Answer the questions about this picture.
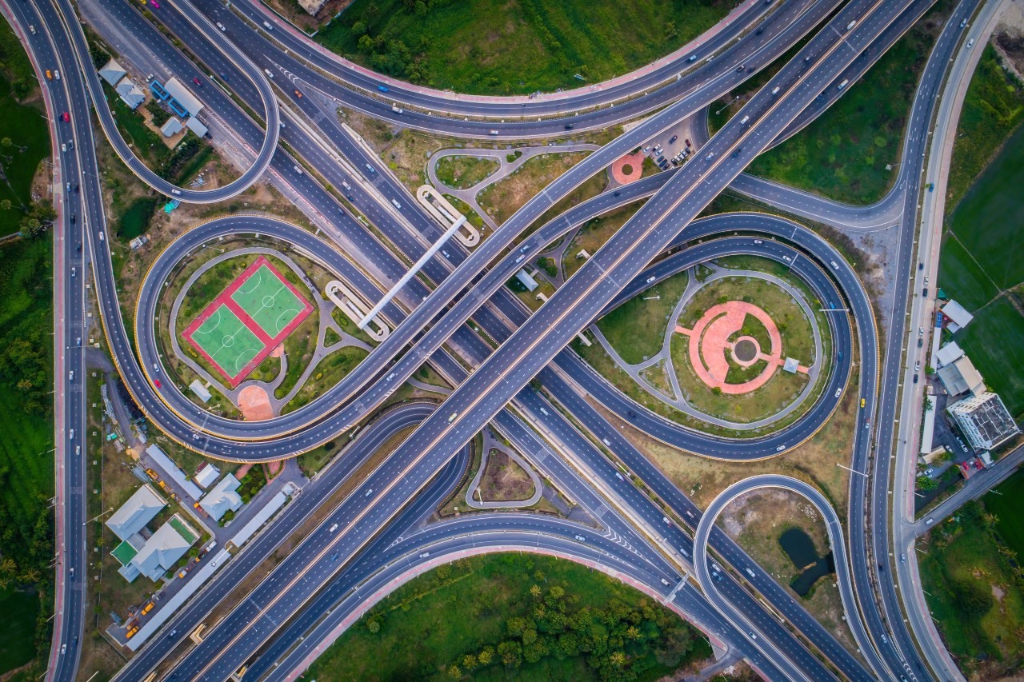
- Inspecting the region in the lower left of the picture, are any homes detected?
Yes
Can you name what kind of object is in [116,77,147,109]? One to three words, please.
building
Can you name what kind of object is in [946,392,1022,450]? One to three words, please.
building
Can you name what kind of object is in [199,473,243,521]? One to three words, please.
house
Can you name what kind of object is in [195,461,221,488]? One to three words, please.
house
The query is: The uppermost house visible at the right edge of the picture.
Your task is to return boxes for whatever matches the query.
[937,299,973,333]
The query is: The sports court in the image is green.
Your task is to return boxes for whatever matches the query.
[182,256,314,387]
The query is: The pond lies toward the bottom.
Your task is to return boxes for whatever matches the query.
[780,528,834,597]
